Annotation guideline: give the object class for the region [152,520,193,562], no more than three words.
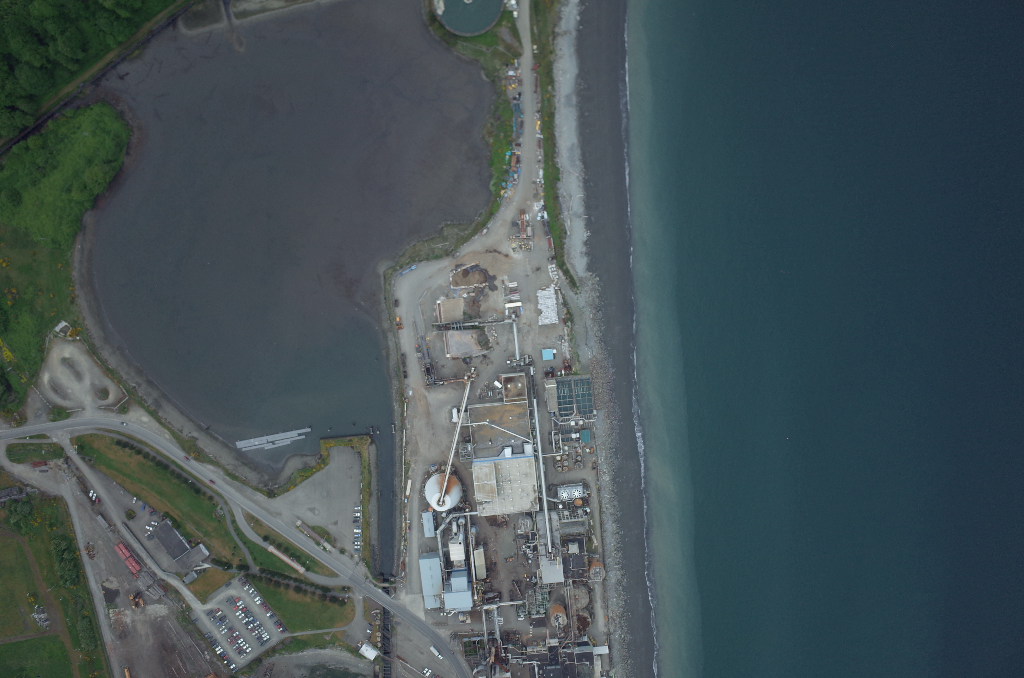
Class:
building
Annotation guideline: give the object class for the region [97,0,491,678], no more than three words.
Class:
pond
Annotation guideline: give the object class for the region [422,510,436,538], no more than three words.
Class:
shed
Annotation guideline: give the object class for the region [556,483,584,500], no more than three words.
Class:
cooling tower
